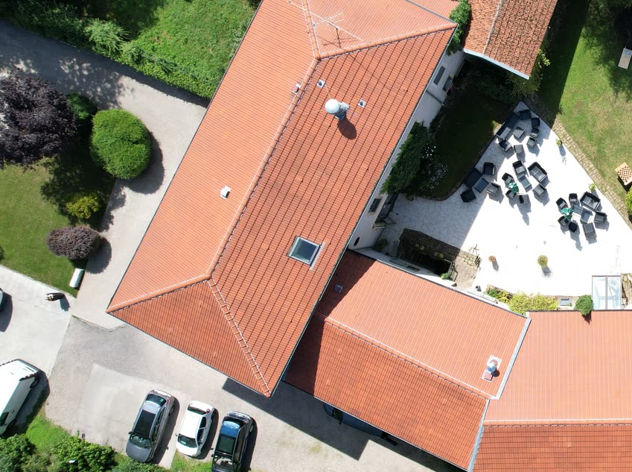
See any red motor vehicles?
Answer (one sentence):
No, the photo shows no red motor vehicle.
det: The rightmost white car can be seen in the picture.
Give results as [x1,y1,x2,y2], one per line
[172,396,218,459]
